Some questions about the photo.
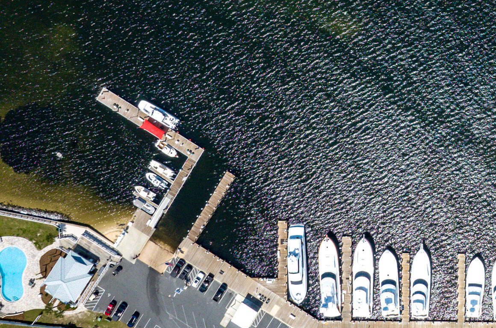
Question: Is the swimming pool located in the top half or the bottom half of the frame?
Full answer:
The swimming pool sits in the bottom half of the picture.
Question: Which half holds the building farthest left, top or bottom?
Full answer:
Seen from above, the building farthest left lies in the bottom half of the view.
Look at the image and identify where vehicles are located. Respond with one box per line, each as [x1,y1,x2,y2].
[111,267,123,278]
[113,302,127,322]
[192,271,206,288]
[200,274,215,292]
[179,262,194,282]
[171,259,186,278]
[105,300,118,317]
[128,311,141,328]
[213,283,228,303]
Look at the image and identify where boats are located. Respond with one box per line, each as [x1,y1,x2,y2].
[151,161,179,179]
[157,141,179,158]
[141,103,180,128]
[466,256,486,318]
[380,250,401,318]
[411,245,431,321]
[146,173,170,190]
[129,197,156,215]
[287,225,307,303]
[320,234,343,319]
[135,187,158,201]
[353,235,375,319]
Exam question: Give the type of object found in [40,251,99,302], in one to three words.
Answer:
building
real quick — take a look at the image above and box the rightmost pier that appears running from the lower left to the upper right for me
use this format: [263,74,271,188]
[187,171,238,245]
